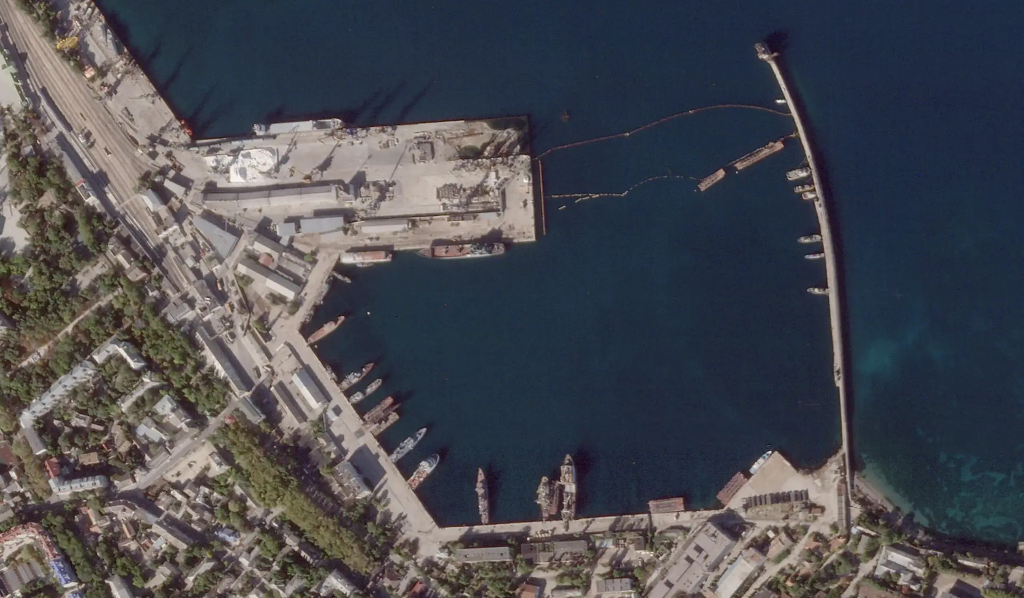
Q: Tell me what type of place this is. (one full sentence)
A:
This image shows a port.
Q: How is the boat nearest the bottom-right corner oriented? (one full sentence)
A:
The boat nearest the bottom-right corner is laid out at an angle.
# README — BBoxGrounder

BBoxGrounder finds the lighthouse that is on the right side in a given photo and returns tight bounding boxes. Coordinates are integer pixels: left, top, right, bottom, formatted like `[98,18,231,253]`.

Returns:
[755,41,774,64]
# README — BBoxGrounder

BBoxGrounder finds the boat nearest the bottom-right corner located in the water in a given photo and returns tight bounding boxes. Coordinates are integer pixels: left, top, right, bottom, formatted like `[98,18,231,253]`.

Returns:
[748,451,772,475]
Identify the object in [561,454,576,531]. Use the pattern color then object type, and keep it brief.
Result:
gray ship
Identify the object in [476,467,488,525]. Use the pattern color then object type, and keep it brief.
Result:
gray ship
